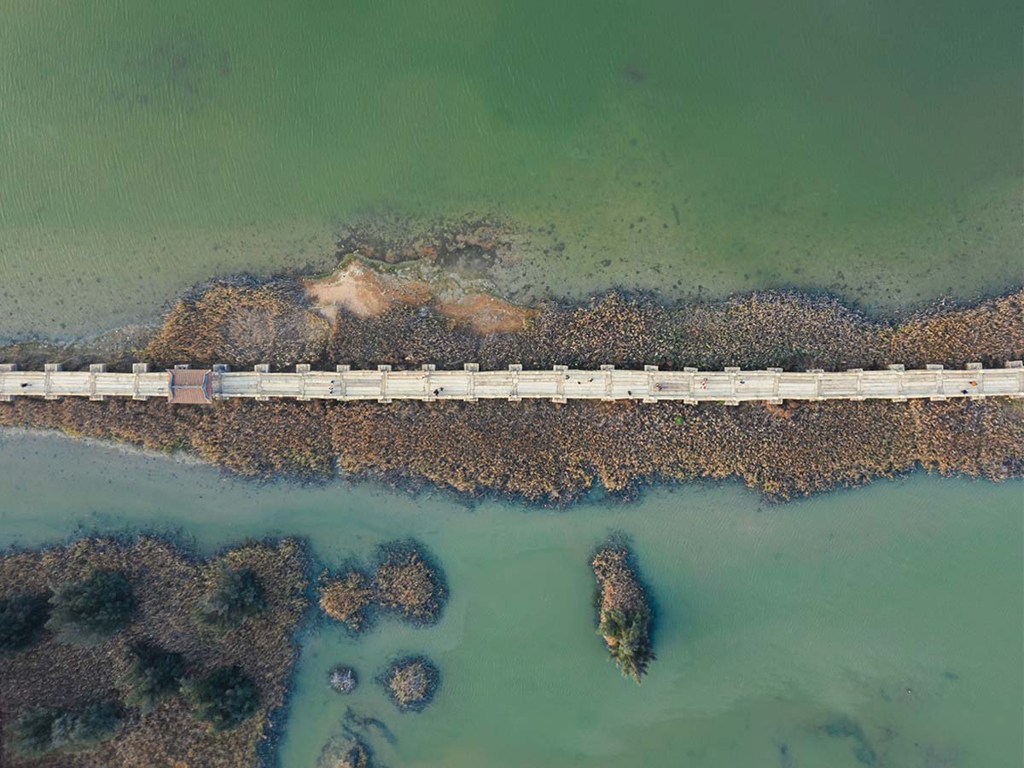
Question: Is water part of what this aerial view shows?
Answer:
Yes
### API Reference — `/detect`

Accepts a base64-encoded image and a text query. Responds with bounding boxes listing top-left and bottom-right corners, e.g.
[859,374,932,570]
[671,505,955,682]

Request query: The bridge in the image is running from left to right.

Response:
[0,361,1024,406]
